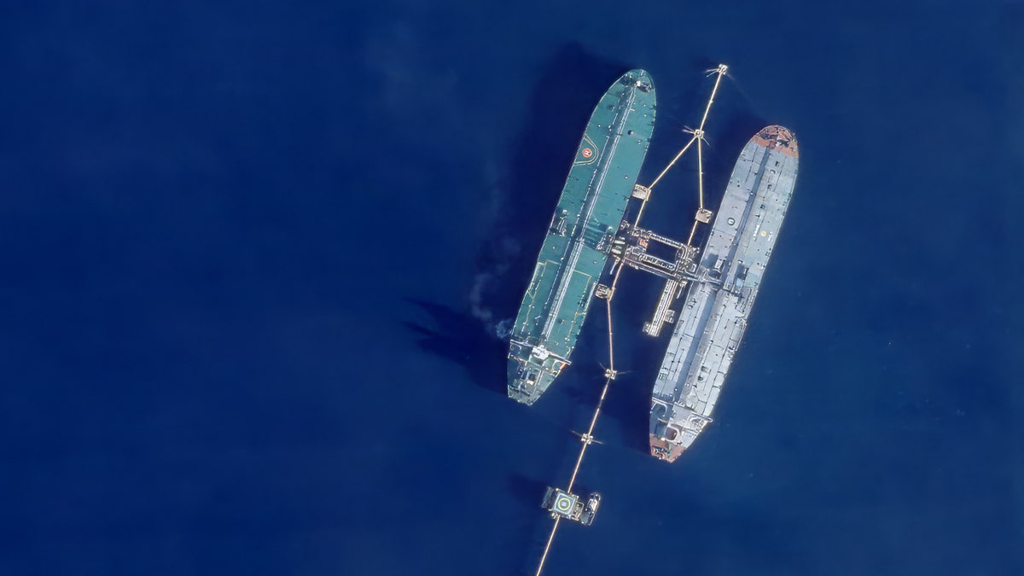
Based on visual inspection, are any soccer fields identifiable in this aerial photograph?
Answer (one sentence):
No, the frame has no soccer field in it.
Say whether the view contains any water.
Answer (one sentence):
Yes, water shows up in the scene.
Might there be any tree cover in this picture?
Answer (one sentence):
No, there's no tree cover in this view.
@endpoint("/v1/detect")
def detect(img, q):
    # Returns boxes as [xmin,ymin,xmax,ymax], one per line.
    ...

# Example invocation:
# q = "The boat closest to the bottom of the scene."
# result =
[580,492,601,525]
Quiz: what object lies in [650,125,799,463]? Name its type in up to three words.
ship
